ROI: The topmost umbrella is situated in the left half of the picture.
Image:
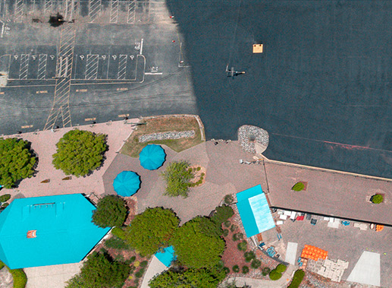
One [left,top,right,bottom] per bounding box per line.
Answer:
[140,143,167,170]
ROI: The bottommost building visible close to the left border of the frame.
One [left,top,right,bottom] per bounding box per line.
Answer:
[0,193,112,269]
